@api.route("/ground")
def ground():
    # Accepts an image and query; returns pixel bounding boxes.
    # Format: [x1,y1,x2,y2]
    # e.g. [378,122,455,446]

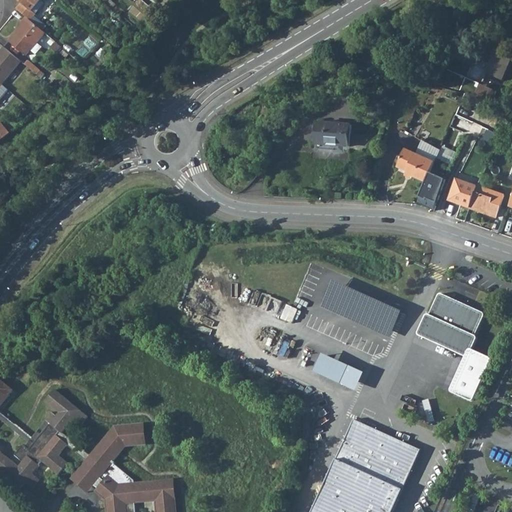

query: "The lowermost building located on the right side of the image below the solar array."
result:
[311,420,421,512]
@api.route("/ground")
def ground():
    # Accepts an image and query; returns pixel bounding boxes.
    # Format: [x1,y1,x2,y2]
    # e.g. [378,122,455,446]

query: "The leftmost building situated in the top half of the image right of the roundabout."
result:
[303,120,349,147]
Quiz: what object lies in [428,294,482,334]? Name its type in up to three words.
building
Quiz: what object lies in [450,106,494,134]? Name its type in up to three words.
house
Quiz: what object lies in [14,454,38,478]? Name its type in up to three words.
house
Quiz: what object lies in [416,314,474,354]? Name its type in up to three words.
building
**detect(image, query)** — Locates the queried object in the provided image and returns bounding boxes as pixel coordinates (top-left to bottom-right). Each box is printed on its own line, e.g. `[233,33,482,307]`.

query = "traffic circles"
[124,107,208,190]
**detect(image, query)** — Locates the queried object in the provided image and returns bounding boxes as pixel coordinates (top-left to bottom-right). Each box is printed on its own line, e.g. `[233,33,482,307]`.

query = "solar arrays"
[322,280,400,336]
